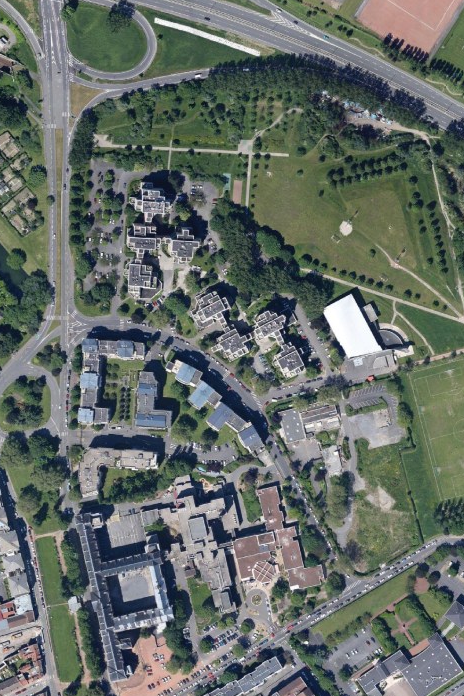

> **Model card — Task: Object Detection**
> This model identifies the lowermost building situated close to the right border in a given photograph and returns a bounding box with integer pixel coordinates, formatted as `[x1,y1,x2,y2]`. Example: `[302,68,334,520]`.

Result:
[357,632,464,696]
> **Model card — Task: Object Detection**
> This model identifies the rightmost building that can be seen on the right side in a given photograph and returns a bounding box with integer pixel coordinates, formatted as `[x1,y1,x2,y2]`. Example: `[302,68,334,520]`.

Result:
[445,601,464,629]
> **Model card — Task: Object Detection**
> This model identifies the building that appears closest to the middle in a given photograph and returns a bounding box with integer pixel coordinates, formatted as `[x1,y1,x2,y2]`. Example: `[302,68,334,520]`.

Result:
[212,330,253,362]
